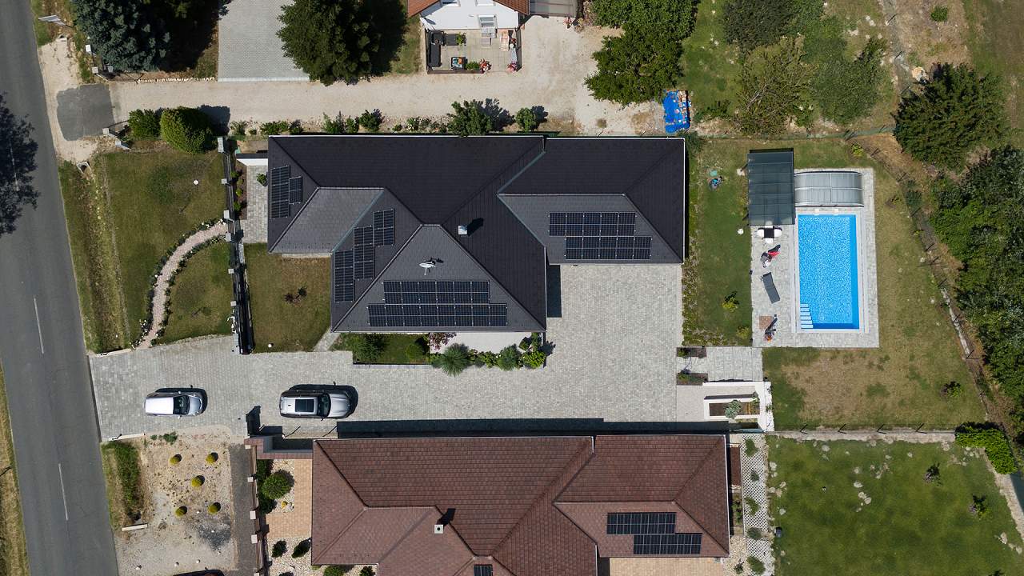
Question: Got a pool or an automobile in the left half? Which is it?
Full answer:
There is an automobile in the left half.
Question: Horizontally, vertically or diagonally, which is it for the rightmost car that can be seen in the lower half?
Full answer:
The rightmost car that can be seen in the lower half is laid out horizontally.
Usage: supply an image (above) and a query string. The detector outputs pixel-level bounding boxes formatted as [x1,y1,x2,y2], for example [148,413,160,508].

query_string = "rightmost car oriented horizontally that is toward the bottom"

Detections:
[279,388,350,423]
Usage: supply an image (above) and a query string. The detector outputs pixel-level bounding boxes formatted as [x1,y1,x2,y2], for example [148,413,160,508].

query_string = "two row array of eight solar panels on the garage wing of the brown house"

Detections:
[605,514,704,555]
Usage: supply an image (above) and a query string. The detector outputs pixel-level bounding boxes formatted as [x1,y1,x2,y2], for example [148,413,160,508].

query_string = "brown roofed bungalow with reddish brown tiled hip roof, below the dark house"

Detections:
[310,433,731,576]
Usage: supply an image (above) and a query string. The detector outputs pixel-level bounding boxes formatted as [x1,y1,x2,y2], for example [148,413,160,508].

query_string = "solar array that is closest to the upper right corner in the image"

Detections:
[548,213,653,260]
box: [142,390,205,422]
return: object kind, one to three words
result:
car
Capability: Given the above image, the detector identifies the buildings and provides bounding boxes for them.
[310,433,731,576]
[266,135,687,333]
[406,0,530,31]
